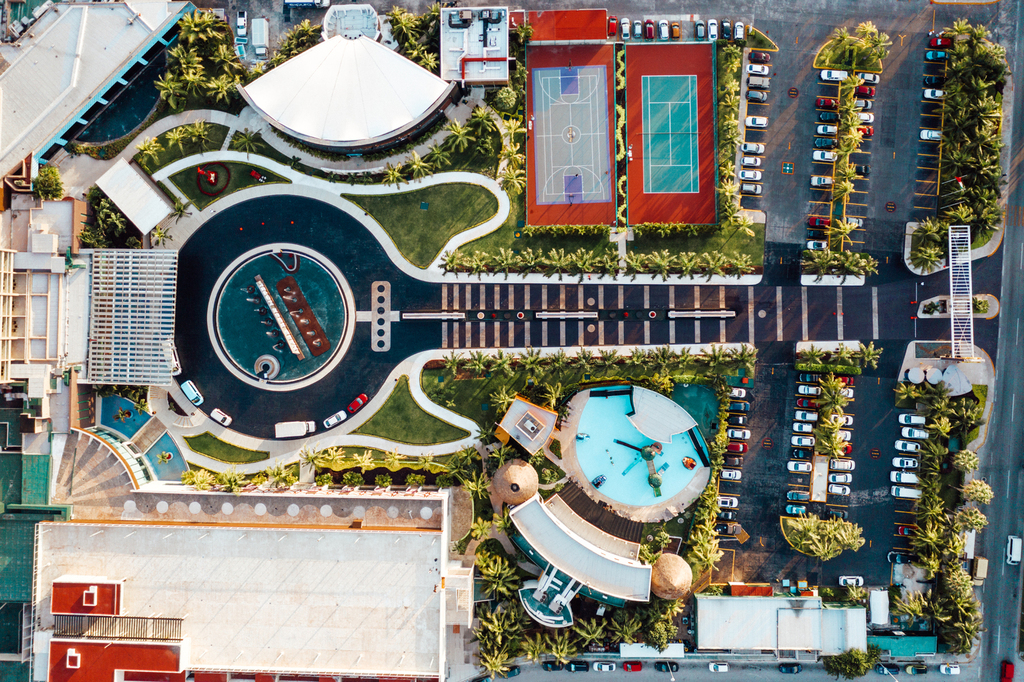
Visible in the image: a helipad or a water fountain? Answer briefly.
water fountain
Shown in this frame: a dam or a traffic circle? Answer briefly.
traffic circle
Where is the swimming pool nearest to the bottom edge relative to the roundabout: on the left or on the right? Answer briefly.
right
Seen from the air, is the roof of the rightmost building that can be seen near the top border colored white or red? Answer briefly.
red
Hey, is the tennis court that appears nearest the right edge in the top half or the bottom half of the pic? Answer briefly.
top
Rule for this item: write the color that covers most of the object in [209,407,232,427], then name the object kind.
white car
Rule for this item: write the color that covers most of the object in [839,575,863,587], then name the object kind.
white vehicle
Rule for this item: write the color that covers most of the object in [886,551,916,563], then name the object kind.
black vehicle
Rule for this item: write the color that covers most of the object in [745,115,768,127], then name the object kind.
white vehicle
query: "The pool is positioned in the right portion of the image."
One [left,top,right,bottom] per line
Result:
[561,385,711,522]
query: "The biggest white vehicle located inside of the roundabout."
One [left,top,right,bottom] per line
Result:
[275,420,320,438]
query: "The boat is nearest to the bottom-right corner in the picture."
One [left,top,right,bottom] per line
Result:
[681,455,696,469]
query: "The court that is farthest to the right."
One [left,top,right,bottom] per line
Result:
[627,45,716,223]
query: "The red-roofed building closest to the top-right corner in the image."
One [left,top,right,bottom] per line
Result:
[528,9,607,46]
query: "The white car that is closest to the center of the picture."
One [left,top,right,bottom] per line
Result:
[324,411,346,428]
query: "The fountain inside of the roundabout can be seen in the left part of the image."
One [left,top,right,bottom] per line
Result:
[207,242,356,391]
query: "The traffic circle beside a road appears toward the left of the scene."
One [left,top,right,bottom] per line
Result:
[132,194,444,440]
